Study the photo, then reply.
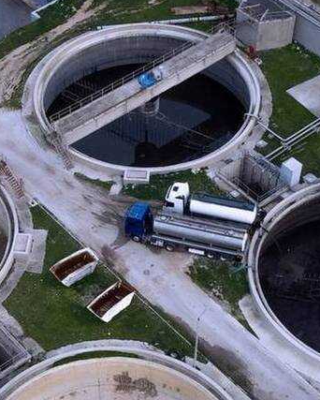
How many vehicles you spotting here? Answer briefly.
2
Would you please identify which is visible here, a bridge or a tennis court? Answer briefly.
bridge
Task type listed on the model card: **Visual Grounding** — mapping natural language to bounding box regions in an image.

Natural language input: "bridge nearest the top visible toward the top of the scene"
[37,23,243,149]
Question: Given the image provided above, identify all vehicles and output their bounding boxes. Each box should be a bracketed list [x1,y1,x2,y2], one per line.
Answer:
[160,186,257,236]
[121,203,245,261]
